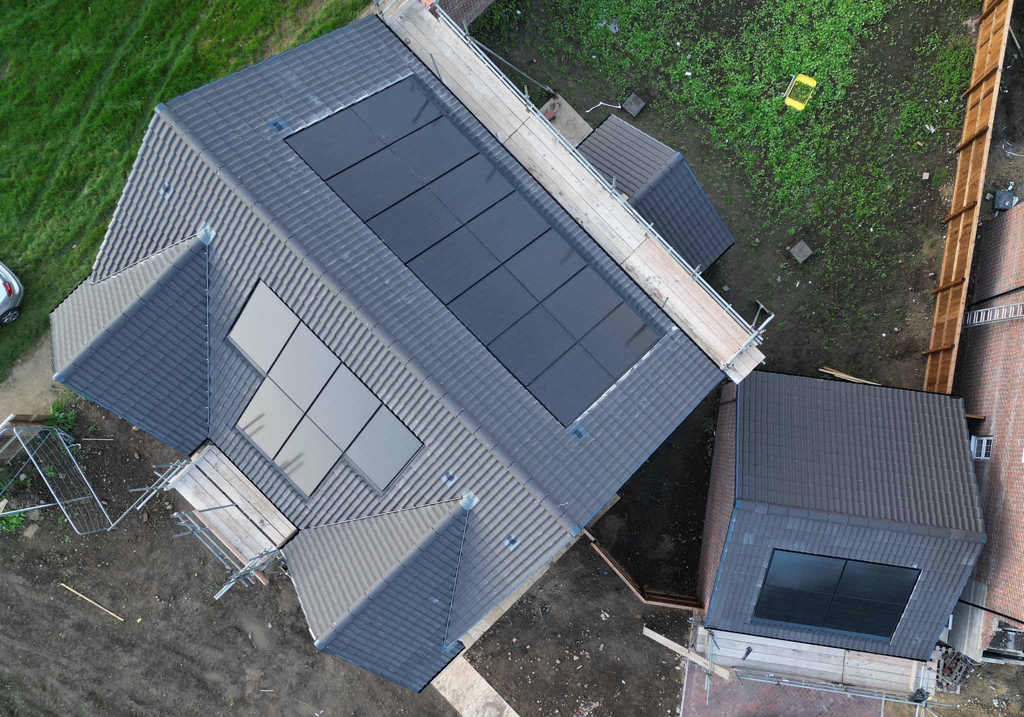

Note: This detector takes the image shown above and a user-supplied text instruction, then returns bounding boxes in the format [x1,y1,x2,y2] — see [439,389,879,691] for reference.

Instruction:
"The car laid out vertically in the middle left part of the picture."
[0,258,29,325]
